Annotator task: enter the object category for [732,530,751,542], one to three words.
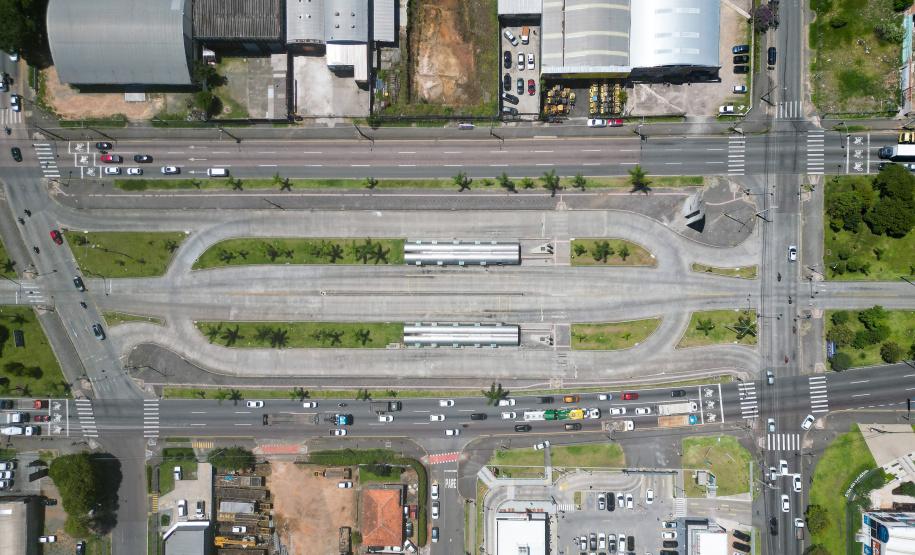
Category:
vehicle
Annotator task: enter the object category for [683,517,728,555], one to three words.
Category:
building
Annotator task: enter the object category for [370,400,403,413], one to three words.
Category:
vehicle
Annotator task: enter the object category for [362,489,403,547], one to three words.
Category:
house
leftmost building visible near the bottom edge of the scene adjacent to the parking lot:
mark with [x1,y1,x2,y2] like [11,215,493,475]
[496,502,547,555]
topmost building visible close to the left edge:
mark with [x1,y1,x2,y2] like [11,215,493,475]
[46,0,198,88]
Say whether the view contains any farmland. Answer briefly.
No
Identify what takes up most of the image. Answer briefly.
paved ground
